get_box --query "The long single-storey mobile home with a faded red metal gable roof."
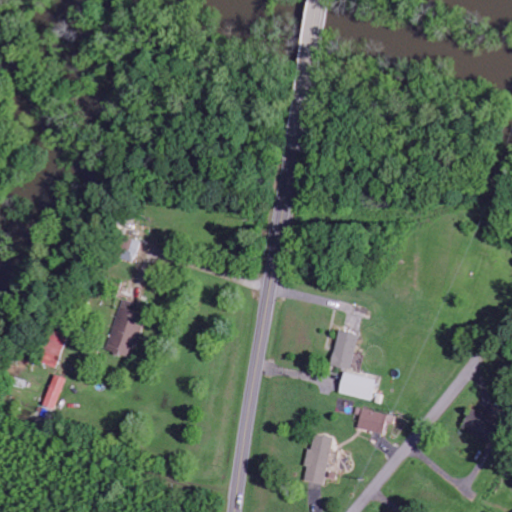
[40,374,66,412]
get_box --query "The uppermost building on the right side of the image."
[332,330,358,372]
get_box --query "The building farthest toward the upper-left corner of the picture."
[120,238,140,264]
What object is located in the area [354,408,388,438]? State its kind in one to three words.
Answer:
house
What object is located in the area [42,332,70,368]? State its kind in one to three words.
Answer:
barn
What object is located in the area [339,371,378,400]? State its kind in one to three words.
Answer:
building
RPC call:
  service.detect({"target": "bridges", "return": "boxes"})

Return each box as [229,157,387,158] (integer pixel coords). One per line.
[300,0,328,47]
